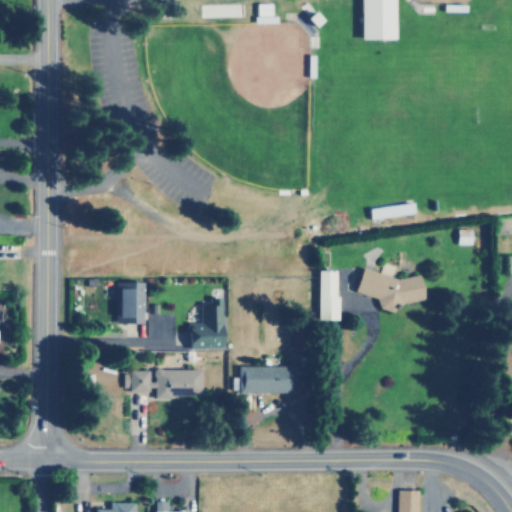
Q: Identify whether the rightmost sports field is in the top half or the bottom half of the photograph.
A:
top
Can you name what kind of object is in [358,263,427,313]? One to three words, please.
house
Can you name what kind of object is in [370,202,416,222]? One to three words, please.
shed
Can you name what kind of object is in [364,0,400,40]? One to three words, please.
barn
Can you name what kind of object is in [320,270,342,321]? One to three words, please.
building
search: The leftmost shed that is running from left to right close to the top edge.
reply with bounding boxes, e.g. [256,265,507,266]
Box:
[201,4,246,19]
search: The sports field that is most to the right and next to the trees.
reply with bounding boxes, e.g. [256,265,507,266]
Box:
[310,0,512,228]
